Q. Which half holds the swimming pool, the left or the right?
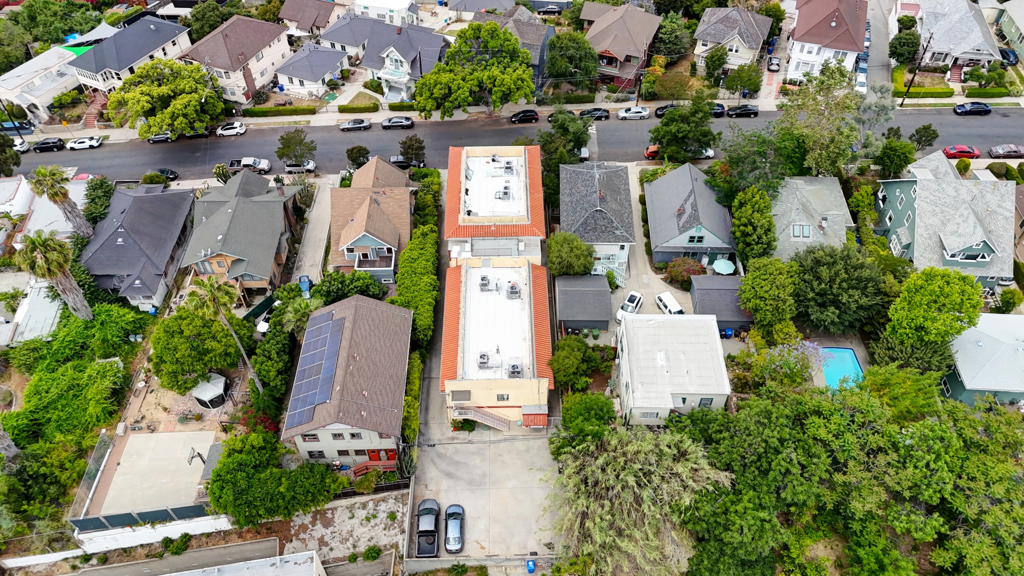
right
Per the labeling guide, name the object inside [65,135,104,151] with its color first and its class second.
white car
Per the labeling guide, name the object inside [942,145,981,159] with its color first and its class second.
red car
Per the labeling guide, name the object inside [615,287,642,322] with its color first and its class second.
white car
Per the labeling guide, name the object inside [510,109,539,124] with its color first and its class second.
black car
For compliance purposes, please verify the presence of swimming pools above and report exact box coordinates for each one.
[819,345,866,396]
